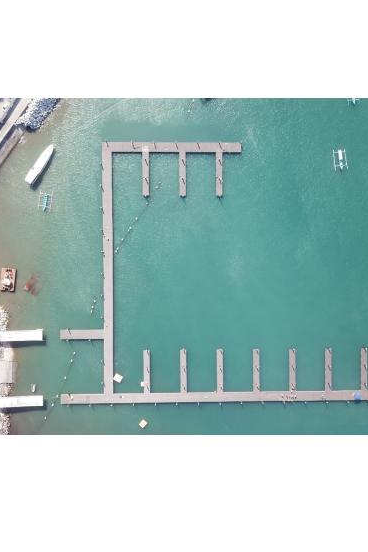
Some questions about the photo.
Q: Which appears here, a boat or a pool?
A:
boat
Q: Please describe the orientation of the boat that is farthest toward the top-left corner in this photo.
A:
on a diagonal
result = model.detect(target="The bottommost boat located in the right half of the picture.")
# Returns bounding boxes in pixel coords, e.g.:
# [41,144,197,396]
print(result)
[333,149,348,171]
